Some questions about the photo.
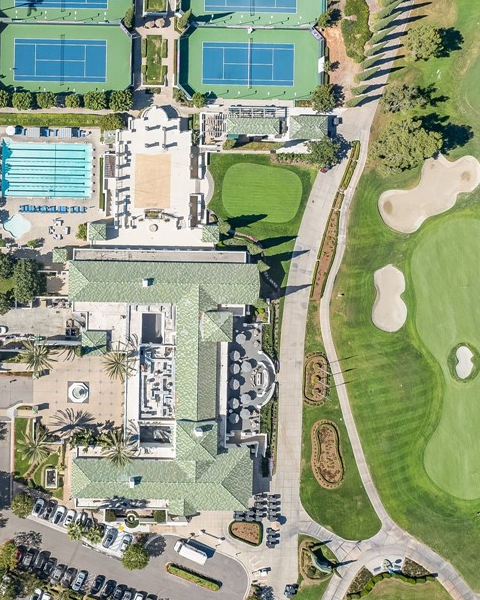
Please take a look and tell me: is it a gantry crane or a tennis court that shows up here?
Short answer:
tennis court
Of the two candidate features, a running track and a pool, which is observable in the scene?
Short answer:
pool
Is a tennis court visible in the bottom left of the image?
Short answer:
No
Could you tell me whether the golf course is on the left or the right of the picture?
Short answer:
right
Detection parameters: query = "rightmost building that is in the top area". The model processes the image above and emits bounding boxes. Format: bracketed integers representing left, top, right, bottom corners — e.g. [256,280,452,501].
[286,115,329,139]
